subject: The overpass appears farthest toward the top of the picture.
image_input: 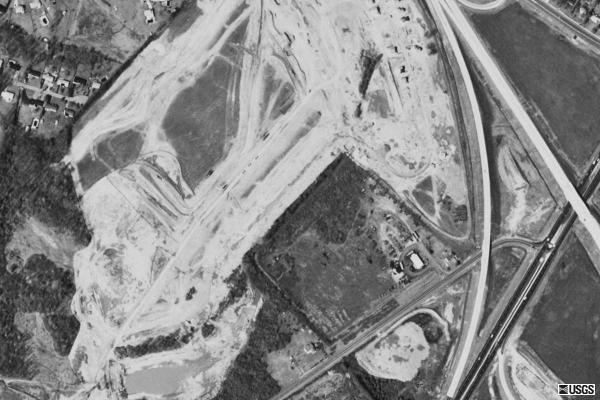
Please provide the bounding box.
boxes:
[555,174,600,233]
